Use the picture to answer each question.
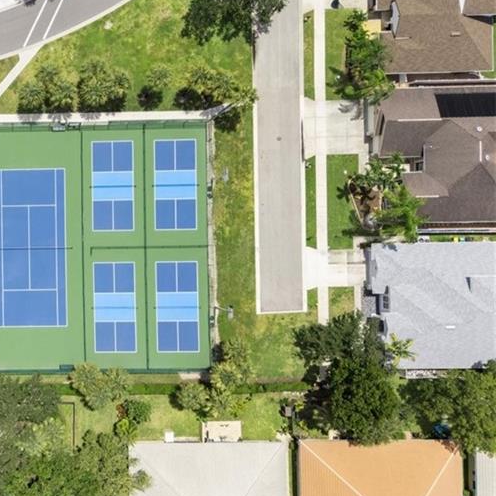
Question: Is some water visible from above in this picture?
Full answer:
No, there is no water in the image.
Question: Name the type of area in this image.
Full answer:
This looks like a residential area.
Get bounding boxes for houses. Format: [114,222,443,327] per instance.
[361,0,496,75]
[371,88,496,222]
[464,445,496,496]
[129,441,290,496]
[295,439,463,496]
[362,242,496,370]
